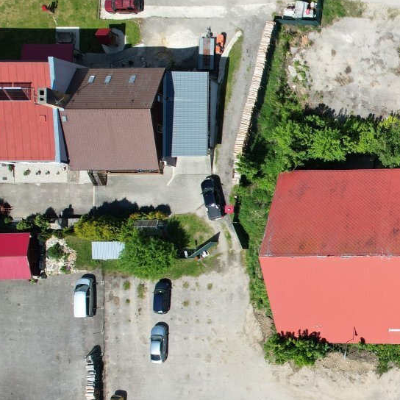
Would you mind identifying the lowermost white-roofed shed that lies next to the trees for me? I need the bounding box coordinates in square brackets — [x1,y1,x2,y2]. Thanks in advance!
[91,241,121,260]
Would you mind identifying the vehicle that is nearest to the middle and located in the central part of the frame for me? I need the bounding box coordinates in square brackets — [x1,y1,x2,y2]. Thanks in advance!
[200,175,224,220]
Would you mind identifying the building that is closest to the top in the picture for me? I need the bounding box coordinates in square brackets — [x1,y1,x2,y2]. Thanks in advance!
[95,29,122,49]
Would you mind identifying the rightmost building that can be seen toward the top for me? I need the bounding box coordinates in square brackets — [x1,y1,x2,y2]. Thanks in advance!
[166,70,218,162]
